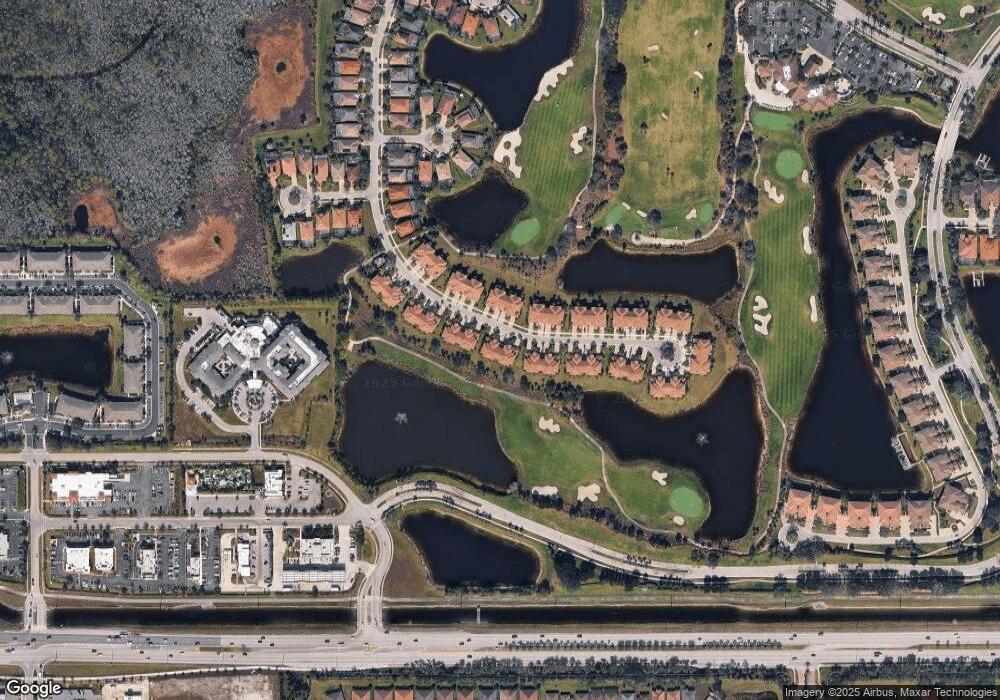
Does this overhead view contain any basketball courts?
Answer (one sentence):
No, there is no basketball court in the image.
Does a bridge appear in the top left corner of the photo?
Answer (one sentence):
No, looking in the top left corner of the photo, there is no bridge.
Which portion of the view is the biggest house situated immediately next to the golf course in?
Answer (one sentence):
The biggest house situated immediately next to the golf course is in the left part of the image.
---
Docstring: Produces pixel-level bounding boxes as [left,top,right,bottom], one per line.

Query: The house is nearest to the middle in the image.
[480,340,518,364]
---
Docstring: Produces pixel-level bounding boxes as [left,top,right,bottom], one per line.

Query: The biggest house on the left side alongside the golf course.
[187,307,329,400]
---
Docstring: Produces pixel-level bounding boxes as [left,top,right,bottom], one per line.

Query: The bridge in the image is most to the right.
[931,120,962,181]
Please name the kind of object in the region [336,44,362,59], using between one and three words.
house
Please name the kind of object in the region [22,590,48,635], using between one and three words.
bridge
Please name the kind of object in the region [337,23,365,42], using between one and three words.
house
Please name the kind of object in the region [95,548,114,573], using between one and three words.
building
